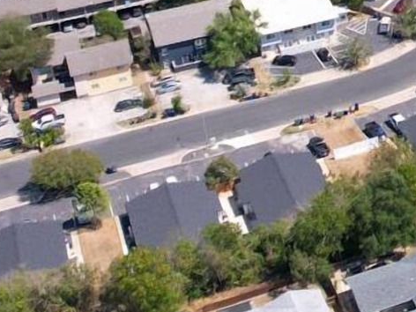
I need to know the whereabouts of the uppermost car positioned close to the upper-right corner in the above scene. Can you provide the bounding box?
[394,0,408,12]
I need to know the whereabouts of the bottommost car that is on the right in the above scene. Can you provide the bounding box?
[309,137,327,155]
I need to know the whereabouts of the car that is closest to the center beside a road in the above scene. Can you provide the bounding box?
[157,107,183,119]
